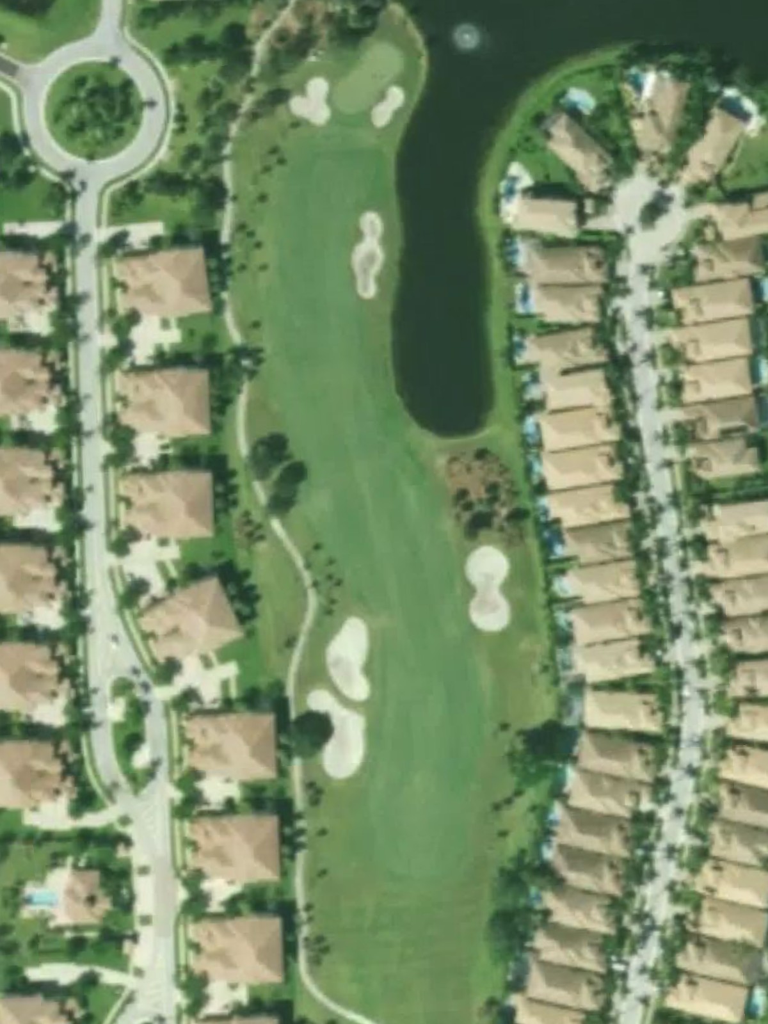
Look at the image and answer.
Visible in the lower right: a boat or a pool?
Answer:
pool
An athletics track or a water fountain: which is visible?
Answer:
water fountain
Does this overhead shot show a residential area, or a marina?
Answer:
residential area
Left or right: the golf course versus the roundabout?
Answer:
on the right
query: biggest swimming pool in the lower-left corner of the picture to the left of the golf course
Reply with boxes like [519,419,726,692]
[23,868,66,927]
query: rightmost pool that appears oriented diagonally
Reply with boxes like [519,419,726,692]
[719,88,763,135]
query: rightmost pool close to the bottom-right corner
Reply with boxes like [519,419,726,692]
[748,986,768,1023]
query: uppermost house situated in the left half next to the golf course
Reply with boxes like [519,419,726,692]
[121,246,209,312]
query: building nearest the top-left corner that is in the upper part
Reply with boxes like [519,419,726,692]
[0,252,49,317]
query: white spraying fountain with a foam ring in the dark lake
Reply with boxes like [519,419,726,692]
[451,21,482,53]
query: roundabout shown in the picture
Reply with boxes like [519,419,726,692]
[22,0,163,194]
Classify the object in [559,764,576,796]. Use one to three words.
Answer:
swimming pool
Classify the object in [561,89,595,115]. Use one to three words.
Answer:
swimming pool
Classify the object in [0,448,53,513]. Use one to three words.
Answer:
house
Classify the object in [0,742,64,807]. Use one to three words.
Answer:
house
